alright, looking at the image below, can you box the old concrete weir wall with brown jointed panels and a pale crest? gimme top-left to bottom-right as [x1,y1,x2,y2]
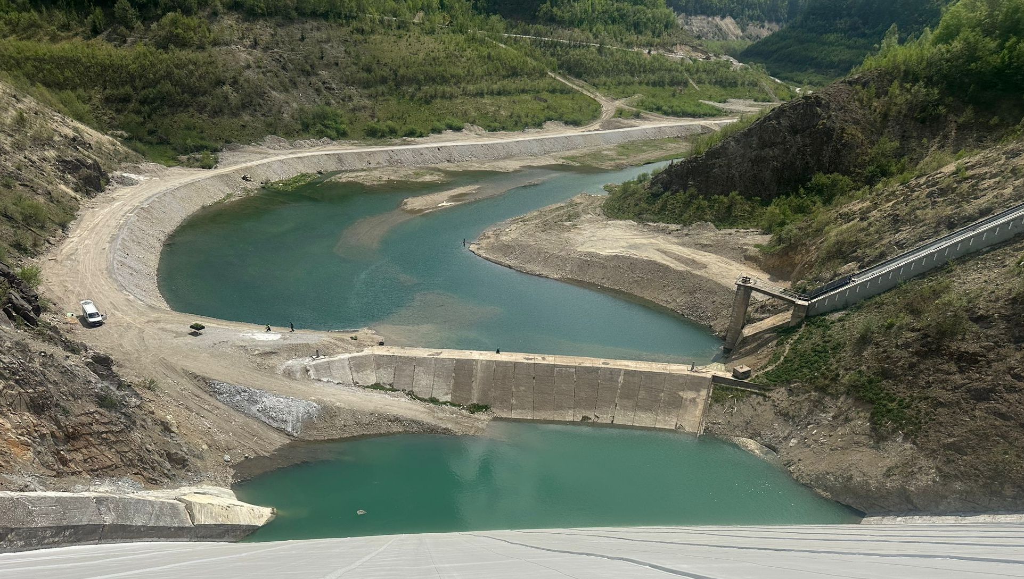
[311,346,713,435]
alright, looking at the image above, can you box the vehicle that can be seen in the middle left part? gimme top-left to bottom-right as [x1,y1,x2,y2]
[77,298,108,327]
